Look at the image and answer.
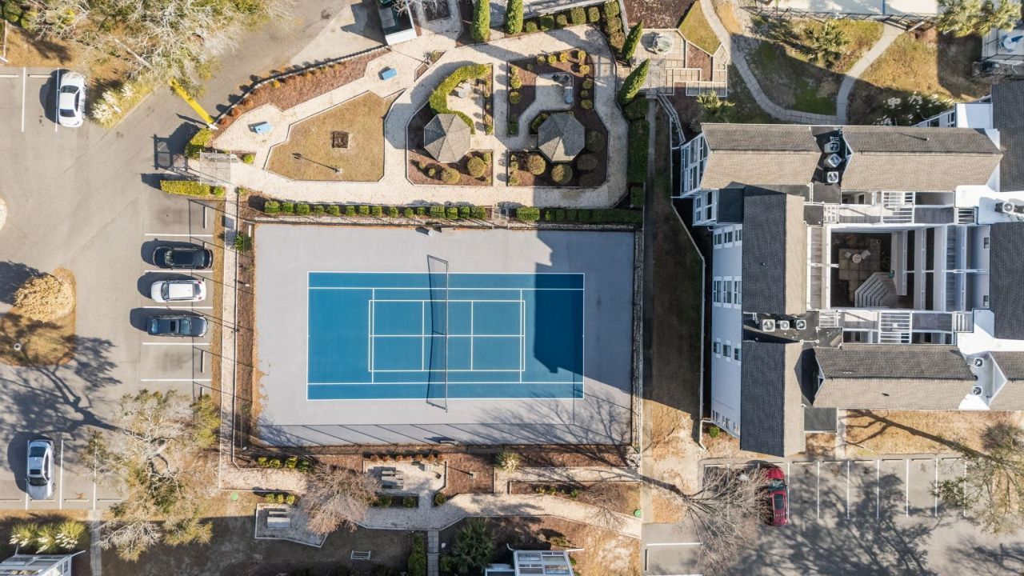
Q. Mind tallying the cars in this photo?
6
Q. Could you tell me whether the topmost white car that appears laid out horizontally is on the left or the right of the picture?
left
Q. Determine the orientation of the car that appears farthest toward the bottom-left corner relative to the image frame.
from top to bottom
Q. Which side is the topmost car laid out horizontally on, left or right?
left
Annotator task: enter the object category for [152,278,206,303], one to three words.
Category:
car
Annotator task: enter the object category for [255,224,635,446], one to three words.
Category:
tennis court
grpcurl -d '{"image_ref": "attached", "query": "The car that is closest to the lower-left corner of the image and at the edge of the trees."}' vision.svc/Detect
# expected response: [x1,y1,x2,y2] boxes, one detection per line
[25,440,56,498]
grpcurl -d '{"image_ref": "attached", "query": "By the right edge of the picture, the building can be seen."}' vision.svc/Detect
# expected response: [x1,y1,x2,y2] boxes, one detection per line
[682,76,1024,462]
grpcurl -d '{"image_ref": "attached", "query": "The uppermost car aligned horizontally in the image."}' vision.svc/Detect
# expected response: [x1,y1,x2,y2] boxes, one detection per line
[154,243,214,270]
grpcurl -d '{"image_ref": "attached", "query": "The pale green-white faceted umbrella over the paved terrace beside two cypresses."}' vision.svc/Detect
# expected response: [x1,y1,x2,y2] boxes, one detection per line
[657,30,678,50]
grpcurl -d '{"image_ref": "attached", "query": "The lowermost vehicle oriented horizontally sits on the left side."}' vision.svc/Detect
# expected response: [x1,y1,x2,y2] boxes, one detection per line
[147,312,208,338]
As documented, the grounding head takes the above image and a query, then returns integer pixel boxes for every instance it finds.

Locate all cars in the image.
[761,466,789,525]
[57,71,87,128]
[154,243,214,270]
[25,440,56,498]
[147,312,208,338]
[152,278,206,303]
